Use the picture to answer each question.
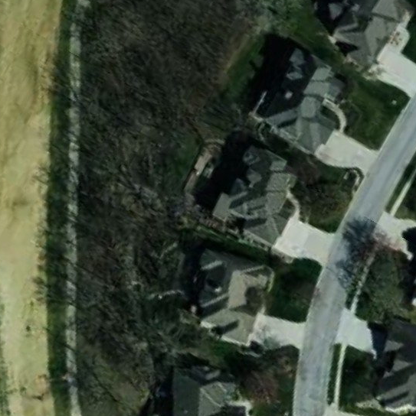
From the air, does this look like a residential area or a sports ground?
residential area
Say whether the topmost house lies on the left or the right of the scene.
right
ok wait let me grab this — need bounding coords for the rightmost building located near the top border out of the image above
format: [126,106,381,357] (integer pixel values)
[330,0,416,72]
